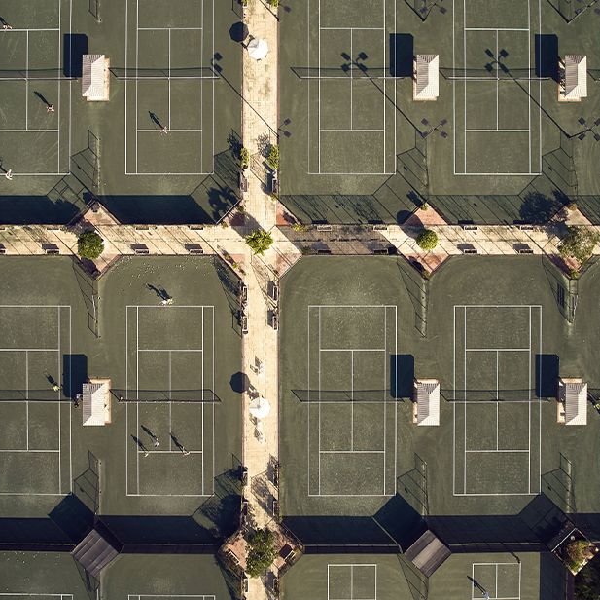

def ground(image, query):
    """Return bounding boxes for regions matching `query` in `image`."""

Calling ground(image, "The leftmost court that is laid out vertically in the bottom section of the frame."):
[0,256,97,543]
